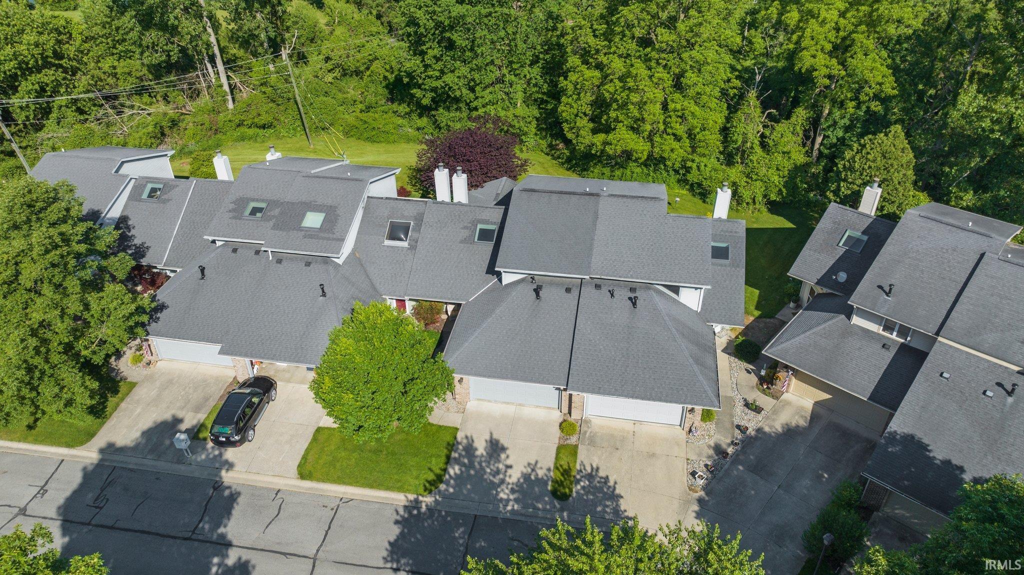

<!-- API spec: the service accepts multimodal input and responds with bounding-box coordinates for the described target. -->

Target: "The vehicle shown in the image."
[208,379,275,448]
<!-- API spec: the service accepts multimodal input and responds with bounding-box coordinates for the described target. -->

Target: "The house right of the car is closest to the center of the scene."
[409,159,745,428]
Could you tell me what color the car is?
black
